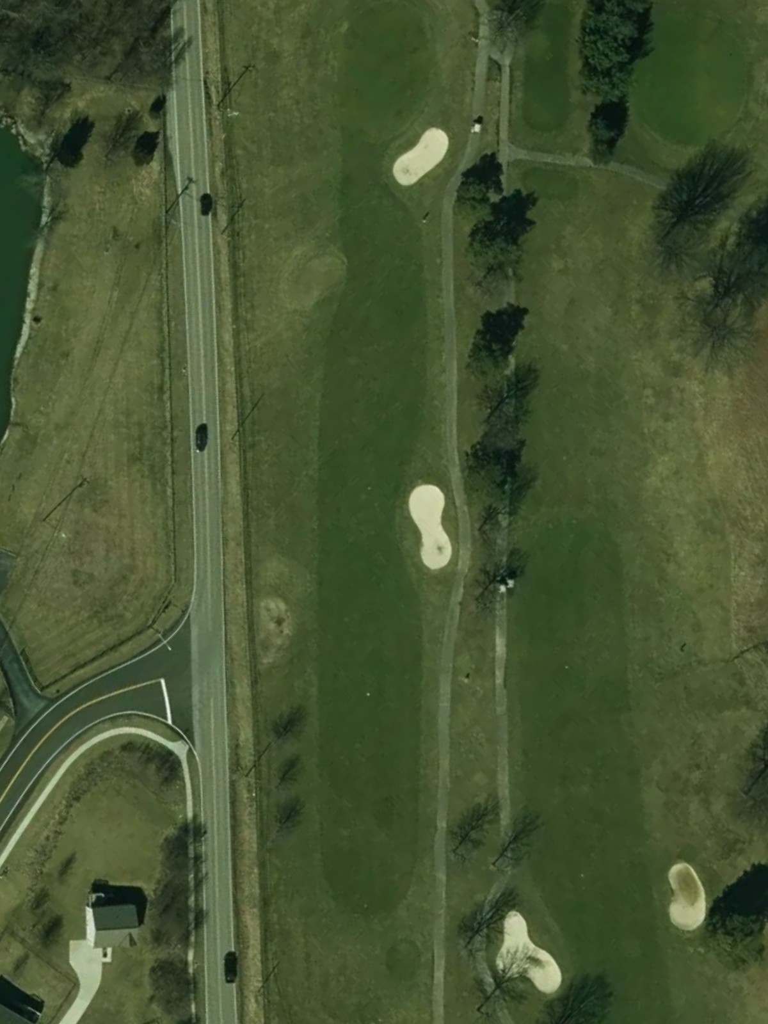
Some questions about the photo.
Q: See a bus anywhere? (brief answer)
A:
No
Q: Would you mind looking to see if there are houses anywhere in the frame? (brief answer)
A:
Yes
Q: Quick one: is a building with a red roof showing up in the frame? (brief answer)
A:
No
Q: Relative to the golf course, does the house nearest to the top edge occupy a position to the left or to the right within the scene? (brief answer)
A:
on the left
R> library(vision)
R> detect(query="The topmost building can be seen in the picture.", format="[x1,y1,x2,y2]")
[86,893,139,951]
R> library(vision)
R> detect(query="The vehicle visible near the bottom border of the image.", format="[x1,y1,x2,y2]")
[223,956,235,982]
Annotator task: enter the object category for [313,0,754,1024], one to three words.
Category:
golf course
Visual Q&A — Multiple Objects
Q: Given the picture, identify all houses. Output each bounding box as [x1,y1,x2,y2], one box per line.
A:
[86,893,139,951]
[0,1001,37,1024]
